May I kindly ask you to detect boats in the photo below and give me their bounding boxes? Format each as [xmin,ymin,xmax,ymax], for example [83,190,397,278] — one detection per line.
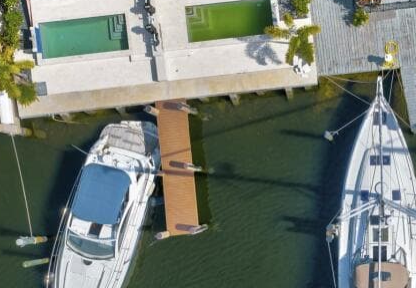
[47,120,161,288]
[336,74,416,288]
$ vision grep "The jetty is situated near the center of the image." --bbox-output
[155,100,200,237]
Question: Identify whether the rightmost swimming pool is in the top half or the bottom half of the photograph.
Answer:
top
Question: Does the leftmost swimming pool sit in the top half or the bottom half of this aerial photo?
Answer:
top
